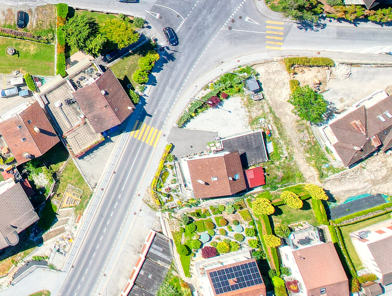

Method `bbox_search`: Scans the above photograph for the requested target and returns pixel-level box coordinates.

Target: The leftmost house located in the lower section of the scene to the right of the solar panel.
[282,222,350,296]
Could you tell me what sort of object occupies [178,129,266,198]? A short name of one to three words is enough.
house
